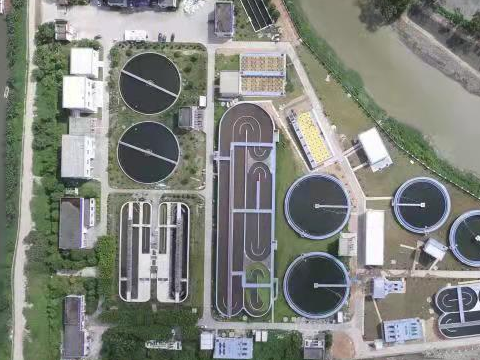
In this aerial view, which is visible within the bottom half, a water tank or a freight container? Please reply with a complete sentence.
The one visible within the bottom half is a water tank.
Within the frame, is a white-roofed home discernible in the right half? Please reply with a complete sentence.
Yes, the scene does show a white-roofed home in the right half.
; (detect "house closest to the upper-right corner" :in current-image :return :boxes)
[359,127,392,169]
